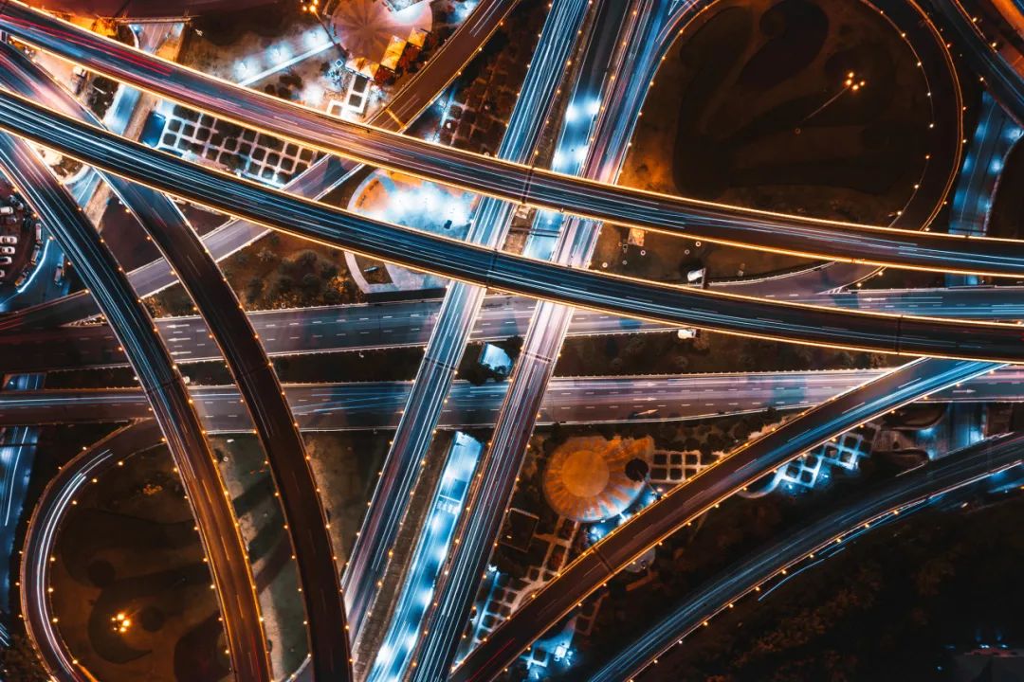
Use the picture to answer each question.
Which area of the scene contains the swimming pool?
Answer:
top left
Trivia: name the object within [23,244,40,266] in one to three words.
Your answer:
vehicle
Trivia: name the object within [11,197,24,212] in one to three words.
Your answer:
vehicle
